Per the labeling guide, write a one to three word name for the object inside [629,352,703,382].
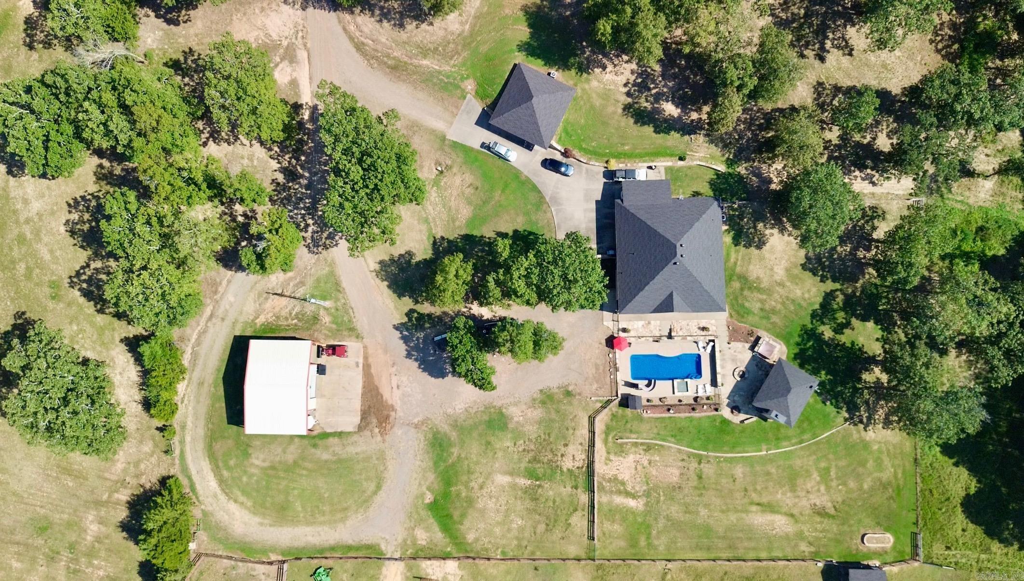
swimming pool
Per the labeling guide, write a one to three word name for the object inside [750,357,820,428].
building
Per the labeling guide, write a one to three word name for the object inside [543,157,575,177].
car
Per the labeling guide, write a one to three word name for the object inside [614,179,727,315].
house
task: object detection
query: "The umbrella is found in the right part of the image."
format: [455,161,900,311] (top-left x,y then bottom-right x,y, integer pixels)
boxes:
[613,335,627,351]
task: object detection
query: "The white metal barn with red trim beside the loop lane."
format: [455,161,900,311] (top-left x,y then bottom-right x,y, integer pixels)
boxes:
[243,339,320,437]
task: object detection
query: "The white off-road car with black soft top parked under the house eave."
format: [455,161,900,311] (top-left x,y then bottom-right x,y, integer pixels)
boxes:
[612,166,646,182]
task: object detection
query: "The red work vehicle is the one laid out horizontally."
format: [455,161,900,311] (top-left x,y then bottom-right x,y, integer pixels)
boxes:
[318,344,346,358]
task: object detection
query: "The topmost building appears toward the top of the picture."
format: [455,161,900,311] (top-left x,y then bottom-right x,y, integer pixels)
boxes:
[489,62,576,149]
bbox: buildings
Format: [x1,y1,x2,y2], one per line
[243,339,320,437]
[628,395,643,410]
[614,179,727,315]
[489,62,576,149]
[750,357,820,428]
[841,562,887,581]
